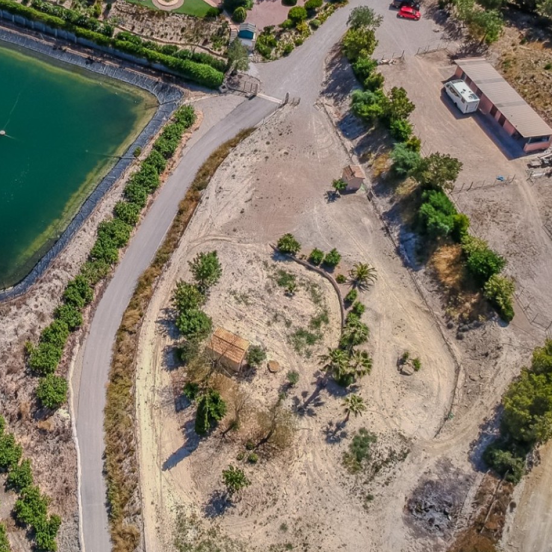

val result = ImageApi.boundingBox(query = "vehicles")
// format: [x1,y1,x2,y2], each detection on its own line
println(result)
[446,78,487,114]
[397,6,422,19]
[392,0,422,10]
